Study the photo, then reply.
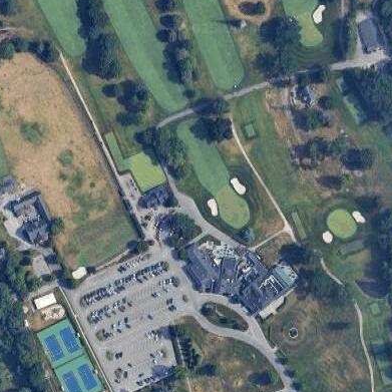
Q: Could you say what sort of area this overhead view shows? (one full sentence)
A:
It's a golf course.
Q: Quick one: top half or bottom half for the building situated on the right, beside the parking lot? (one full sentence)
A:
The bottom half of the photo is where the building situated on the right, beside the parking lot is.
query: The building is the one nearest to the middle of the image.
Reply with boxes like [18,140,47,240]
[138,187,171,208]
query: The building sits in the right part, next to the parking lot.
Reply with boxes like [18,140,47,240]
[182,247,302,317]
